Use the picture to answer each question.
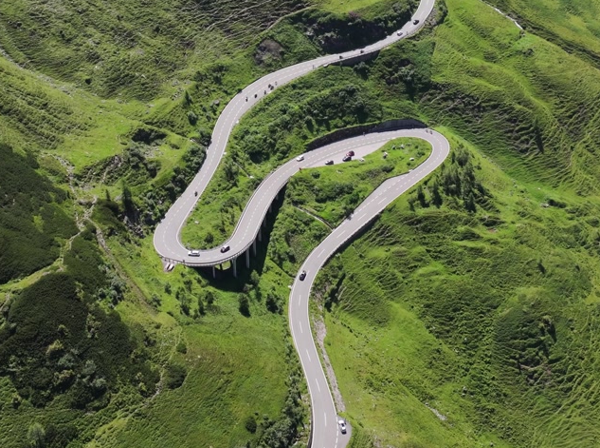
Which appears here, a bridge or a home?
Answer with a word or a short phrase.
bridge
